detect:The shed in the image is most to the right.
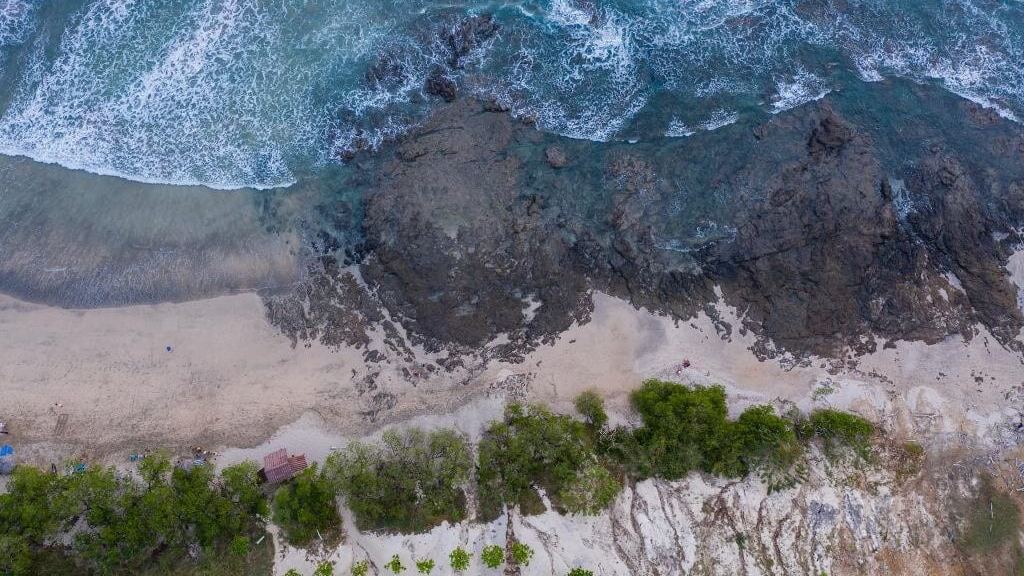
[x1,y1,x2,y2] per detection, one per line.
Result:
[261,447,308,484]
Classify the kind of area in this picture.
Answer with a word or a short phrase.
beach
